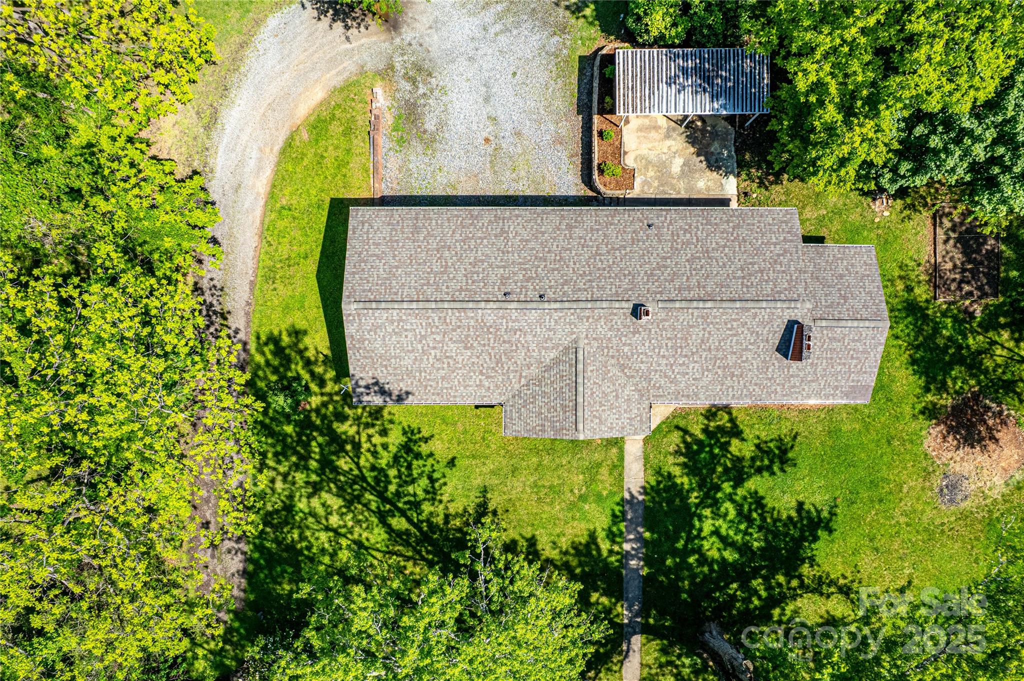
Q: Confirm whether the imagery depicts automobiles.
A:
No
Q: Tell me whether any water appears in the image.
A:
No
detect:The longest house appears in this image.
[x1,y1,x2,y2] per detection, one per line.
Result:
[343,205,889,440]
